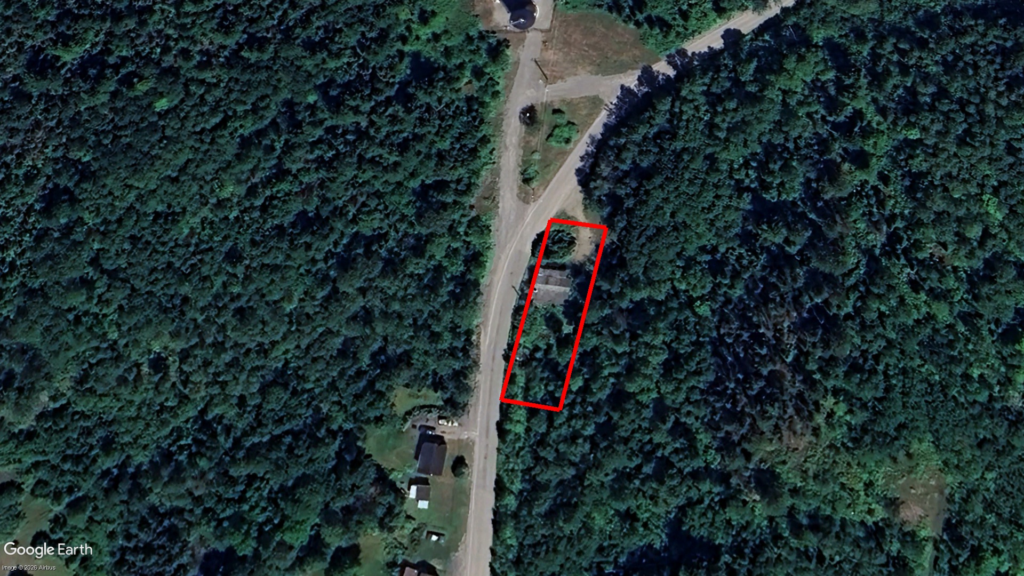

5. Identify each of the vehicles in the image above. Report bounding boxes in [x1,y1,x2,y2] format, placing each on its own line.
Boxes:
[438,419,457,426]
[420,426,436,434]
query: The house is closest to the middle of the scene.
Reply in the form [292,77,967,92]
[534,267,571,305]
